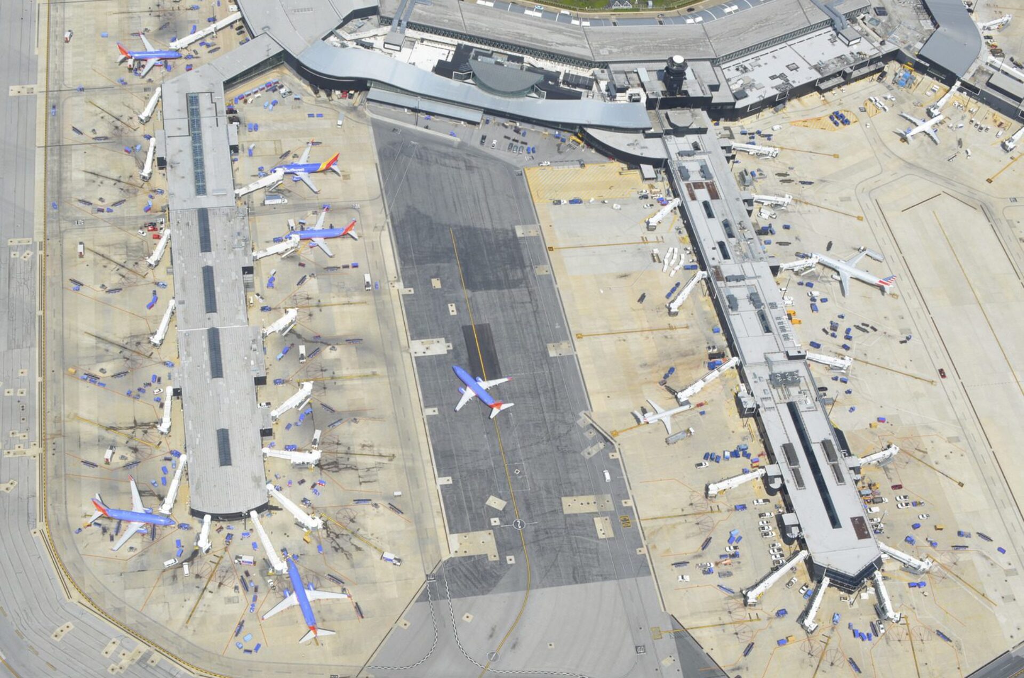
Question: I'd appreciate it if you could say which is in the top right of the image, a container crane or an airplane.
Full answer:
You can see an airplane in the top right of the image.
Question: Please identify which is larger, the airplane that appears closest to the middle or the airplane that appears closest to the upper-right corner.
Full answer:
The airplane that appears closest to the upper-right corner is smaller than the airplane that appears closest to the middle.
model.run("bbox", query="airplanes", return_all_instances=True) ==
[809,251,895,293]
[261,560,350,643]
[116,30,182,76]
[286,205,358,259]
[639,399,694,433]
[88,476,176,551]
[272,141,341,192]
[452,367,515,418]
[900,112,944,141]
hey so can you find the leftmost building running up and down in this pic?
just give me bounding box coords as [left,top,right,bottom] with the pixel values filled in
[156,39,277,524]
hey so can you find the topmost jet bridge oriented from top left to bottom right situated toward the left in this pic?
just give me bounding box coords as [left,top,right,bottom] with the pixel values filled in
[266,482,327,533]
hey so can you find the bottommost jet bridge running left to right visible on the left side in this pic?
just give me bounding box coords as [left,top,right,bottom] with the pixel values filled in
[262,447,326,468]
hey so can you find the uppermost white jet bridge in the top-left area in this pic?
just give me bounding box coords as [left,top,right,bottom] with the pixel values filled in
[168,14,238,52]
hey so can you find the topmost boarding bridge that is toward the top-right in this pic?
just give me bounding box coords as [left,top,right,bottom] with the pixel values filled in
[978,15,1011,33]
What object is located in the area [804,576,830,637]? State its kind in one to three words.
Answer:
jet bridge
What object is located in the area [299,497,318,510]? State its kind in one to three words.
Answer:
vehicle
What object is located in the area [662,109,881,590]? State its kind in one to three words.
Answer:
building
